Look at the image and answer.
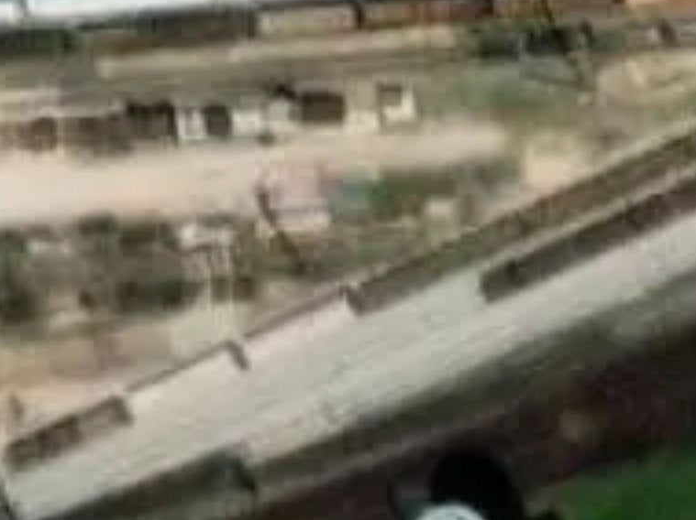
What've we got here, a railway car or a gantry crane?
railway car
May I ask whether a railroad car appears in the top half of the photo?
Yes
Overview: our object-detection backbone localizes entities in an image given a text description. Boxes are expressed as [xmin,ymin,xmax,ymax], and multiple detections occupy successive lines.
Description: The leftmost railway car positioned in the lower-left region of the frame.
[4,395,138,474]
